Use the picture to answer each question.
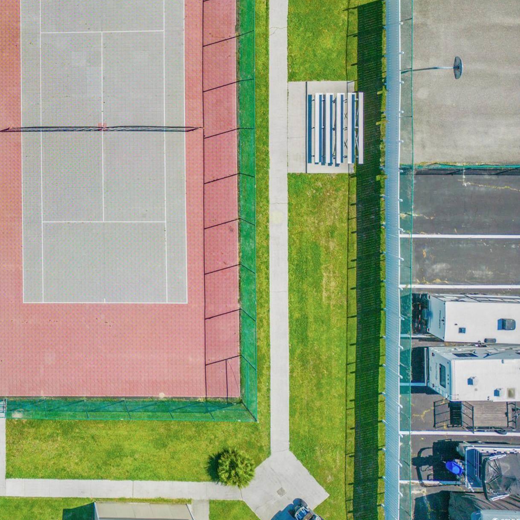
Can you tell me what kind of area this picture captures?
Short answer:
sports ground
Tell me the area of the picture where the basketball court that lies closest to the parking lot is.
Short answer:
top right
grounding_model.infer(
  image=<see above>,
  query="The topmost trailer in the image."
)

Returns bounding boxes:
[422,291,520,342]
